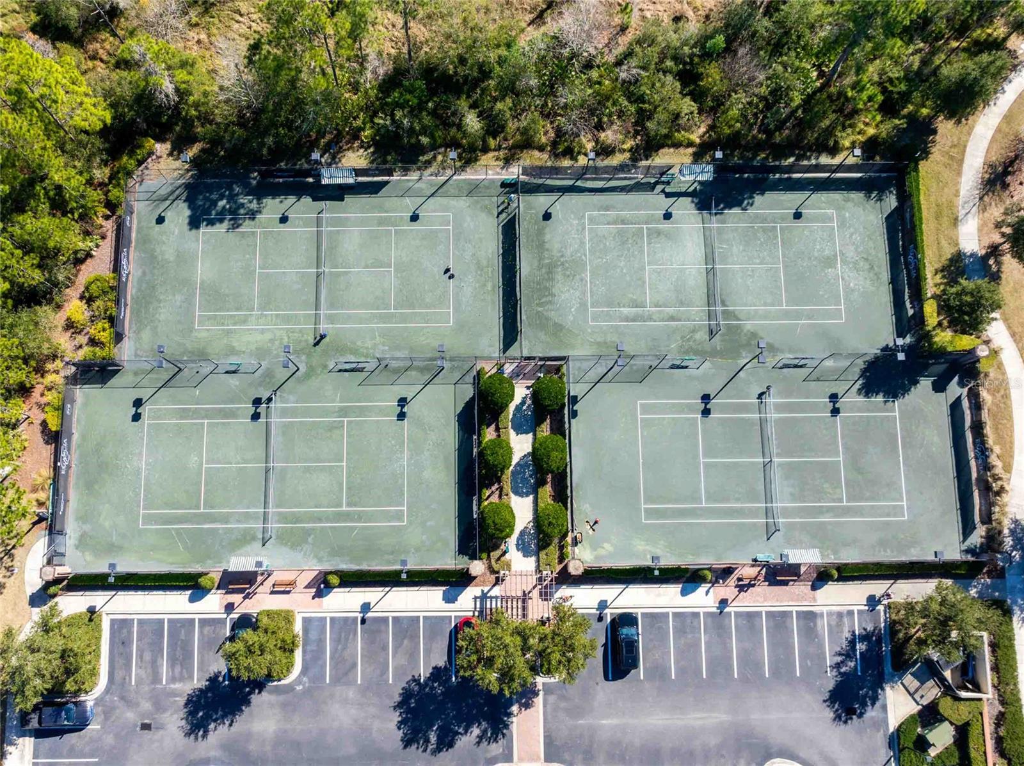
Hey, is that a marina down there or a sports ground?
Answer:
sports ground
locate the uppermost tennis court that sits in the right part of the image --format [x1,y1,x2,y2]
[519,175,914,363]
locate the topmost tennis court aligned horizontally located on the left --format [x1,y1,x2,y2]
[124,178,520,368]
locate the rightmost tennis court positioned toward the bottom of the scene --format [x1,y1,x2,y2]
[568,359,983,564]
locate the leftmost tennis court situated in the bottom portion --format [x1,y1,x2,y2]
[64,364,477,571]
